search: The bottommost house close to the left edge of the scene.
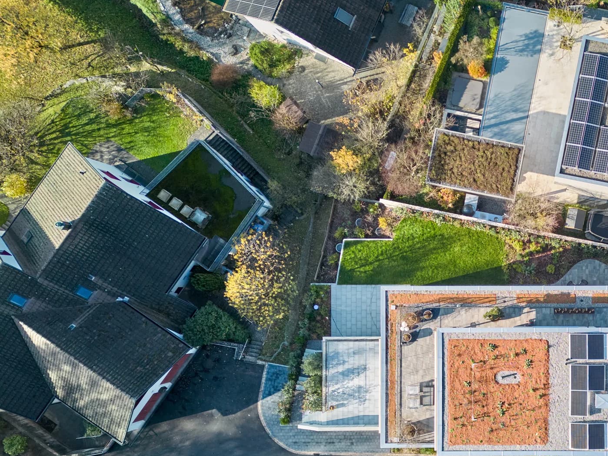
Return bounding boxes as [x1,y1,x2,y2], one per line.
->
[0,142,209,446]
